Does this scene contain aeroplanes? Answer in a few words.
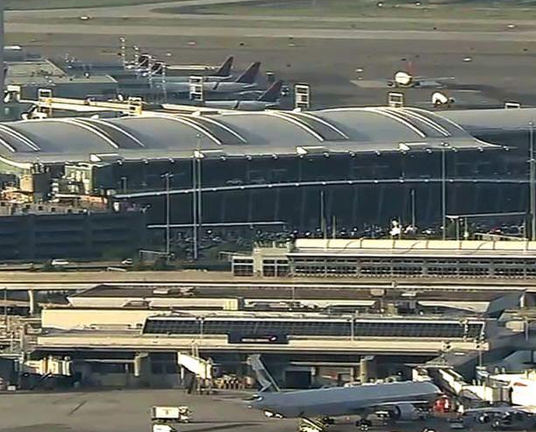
Yes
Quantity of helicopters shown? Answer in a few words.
zero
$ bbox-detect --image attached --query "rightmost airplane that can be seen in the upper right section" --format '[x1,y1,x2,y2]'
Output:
[409,75,483,106]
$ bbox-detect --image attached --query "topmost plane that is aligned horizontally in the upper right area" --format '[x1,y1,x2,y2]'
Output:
[365,47,448,89]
